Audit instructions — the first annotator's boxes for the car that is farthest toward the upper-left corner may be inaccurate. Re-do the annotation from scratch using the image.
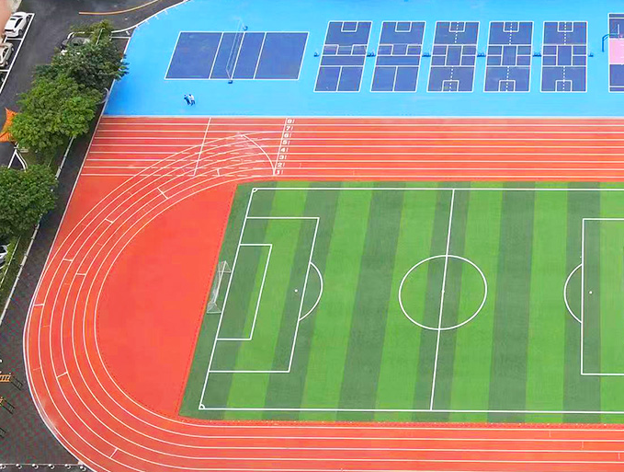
[0,12,30,37]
